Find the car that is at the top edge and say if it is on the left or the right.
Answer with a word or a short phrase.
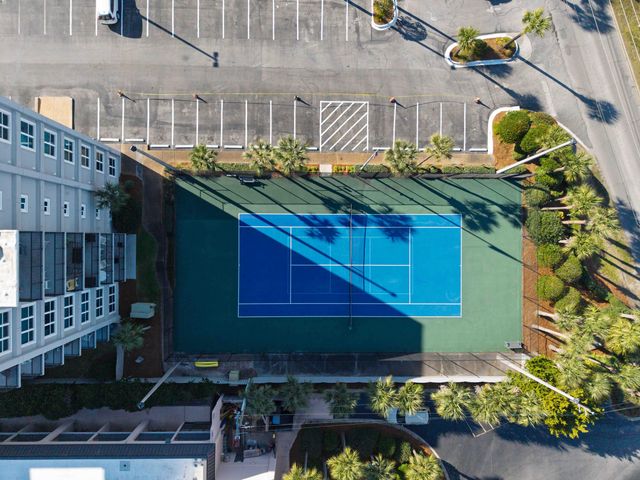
left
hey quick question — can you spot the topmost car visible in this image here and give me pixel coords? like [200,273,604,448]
[97,0,121,26]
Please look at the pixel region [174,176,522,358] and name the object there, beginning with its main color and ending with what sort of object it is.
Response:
blue tennis court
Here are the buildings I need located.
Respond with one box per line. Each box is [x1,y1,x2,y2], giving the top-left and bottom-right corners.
[0,399,221,480]
[0,95,137,396]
